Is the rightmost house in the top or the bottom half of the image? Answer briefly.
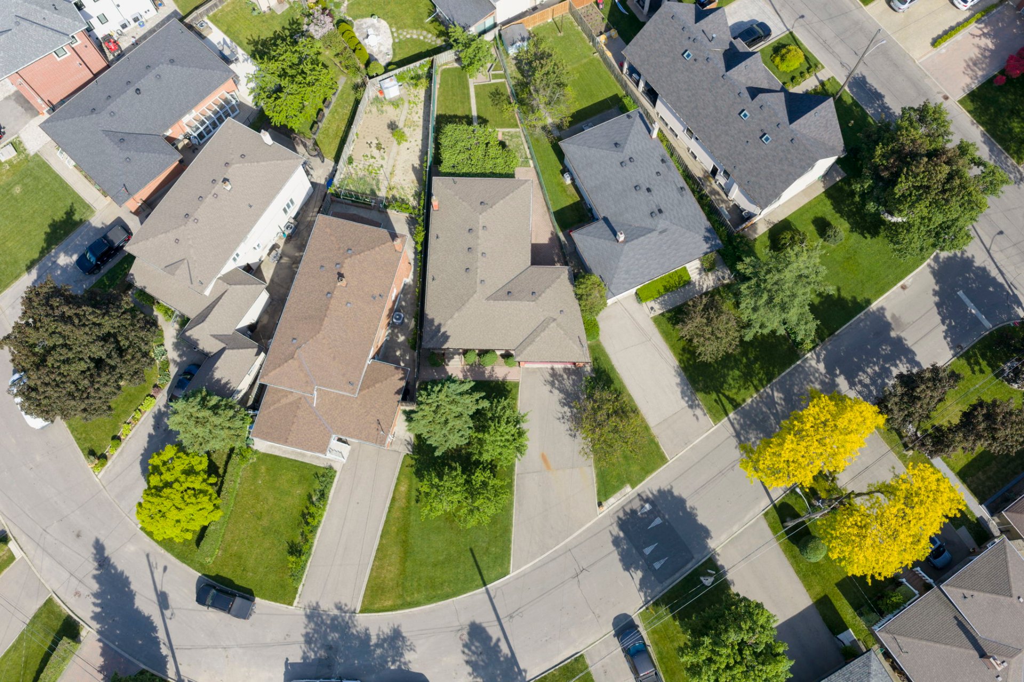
bottom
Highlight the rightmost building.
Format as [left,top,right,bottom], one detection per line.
[971,479,1024,556]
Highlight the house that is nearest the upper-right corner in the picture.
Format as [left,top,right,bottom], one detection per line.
[621,1,850,220]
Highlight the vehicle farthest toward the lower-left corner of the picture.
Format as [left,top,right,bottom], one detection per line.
[193,580,260,619]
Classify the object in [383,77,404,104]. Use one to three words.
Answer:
shed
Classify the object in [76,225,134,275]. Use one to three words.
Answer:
truck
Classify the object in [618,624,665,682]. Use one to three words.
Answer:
truck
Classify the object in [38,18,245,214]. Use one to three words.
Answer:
house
